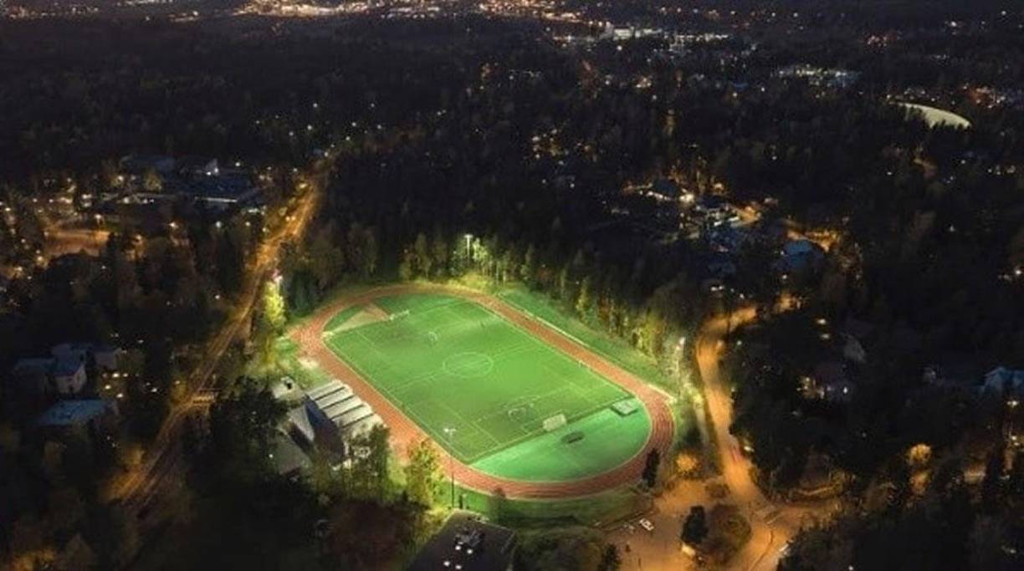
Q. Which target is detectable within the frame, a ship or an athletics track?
athletics track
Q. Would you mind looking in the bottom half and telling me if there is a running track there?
Yes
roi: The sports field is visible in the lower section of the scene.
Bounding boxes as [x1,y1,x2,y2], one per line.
[323,296,637,468]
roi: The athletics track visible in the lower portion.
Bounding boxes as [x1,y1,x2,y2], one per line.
[304,284,676,500]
